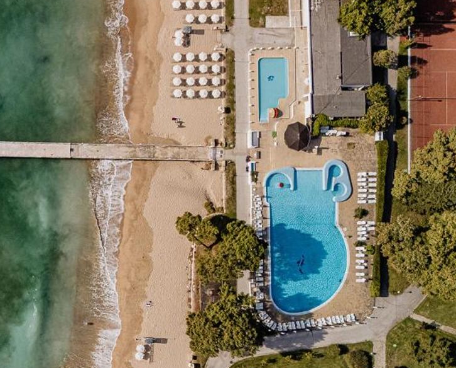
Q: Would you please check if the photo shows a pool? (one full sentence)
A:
Yes, the photo shows a pool.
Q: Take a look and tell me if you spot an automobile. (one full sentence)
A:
No, no automobile is visible in the scene.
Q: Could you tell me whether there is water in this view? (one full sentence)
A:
Yes, water shows up in the scene.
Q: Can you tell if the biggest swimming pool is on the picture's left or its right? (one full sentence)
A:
The biggest swimming pool is on the right side of the image.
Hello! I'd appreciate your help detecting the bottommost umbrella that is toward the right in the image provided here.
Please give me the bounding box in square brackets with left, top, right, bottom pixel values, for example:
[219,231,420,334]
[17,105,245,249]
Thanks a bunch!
[283,124,309,150]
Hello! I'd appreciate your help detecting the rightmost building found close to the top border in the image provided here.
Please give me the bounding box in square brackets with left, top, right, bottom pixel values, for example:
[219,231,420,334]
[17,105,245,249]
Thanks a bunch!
[302,0,372,119]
